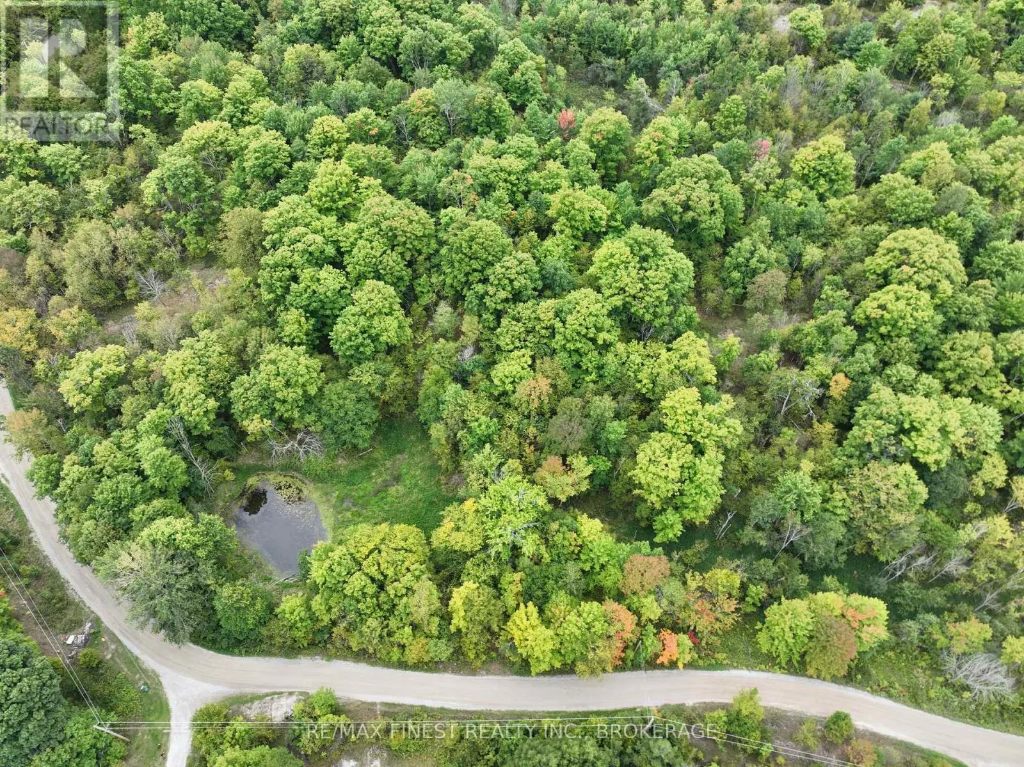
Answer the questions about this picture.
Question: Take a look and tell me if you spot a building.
No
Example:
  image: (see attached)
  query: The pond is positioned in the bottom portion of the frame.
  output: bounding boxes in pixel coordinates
[232,472,330,584]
